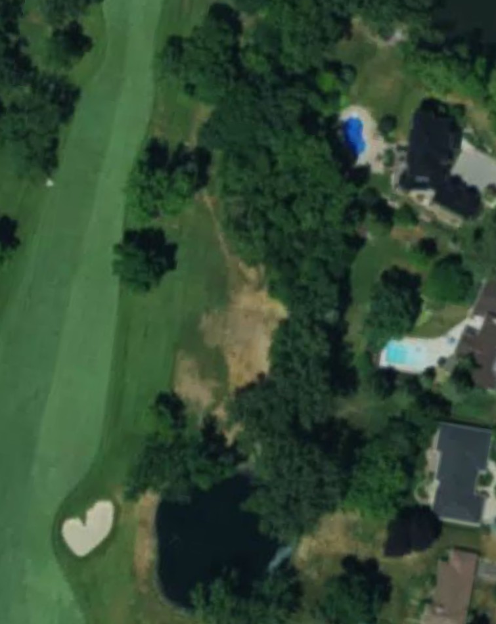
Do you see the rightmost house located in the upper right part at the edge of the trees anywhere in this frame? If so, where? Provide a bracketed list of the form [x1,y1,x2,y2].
[400,110,482,218]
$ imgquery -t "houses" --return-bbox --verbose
[400,110,482,218]
[423,549,478,624]
[433,423,492,522]
[457,277,496,383]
